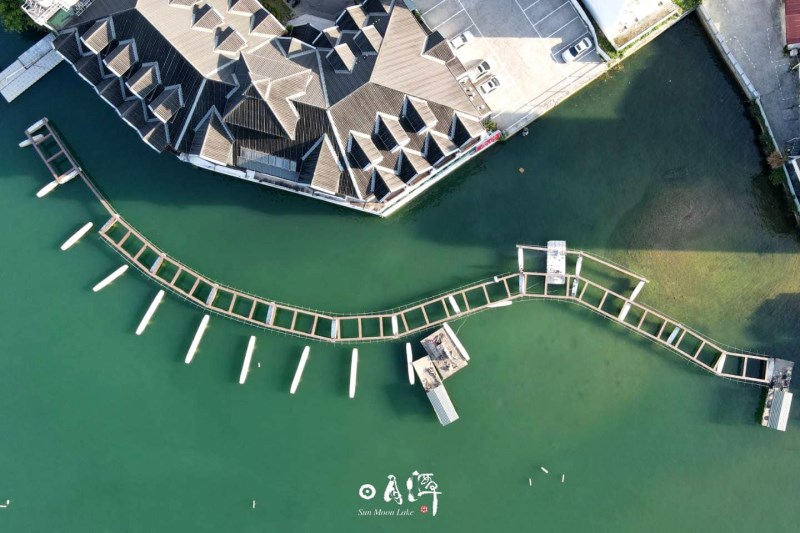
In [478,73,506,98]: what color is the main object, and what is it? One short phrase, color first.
white car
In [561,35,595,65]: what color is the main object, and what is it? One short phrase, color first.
white car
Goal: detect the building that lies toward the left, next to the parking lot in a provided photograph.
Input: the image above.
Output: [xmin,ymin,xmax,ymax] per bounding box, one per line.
[50,0,505,216]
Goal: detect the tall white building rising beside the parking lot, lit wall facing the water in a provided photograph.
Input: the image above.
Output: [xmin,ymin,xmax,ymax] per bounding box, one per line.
[587,0,686,51]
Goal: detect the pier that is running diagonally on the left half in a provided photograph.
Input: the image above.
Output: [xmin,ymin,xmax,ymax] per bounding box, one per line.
[0,34,67,104]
